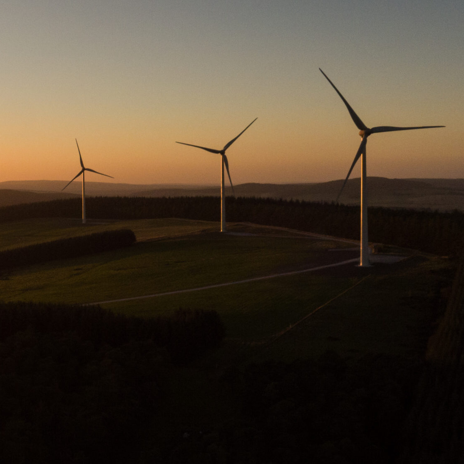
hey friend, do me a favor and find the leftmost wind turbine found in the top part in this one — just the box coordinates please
[63,136,117,223]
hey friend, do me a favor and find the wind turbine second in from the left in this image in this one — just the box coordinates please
[179,118,258,232]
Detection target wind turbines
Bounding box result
[325,68,448,268]
[179,118,258,232]
[63,136,117,223]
